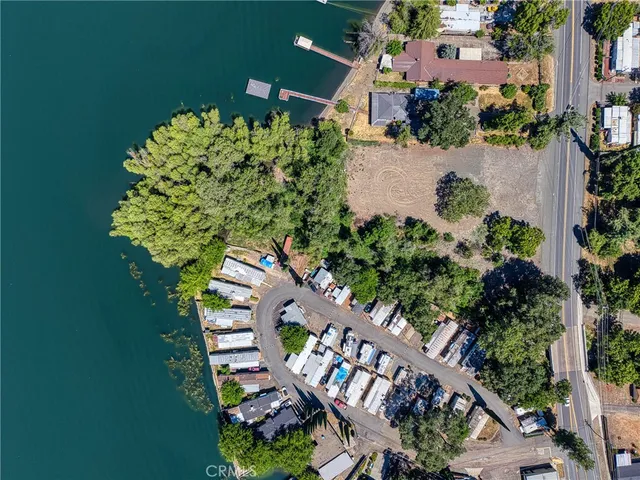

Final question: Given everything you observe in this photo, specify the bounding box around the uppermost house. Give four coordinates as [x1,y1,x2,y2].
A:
[438,4,481,36]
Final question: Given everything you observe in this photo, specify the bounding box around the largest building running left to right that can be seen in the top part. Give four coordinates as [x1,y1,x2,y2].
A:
[392,39,509,86]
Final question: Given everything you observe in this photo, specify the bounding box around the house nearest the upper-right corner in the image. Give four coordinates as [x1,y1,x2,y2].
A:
[611,22,640,74]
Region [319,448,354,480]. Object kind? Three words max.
barn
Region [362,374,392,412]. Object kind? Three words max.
house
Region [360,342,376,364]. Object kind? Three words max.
camper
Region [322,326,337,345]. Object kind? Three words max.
camper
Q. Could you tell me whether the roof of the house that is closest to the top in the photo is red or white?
white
